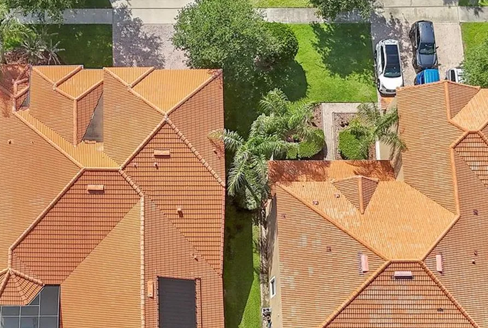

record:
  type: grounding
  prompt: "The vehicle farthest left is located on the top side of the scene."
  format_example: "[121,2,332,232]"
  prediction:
[371,41,406,95]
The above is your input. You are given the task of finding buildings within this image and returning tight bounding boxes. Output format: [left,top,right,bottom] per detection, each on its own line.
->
[263,79,488,328]
[0,64,226,328]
